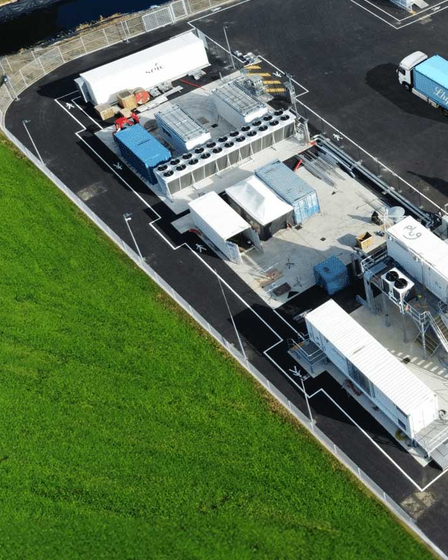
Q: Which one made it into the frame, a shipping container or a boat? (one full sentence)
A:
Looking from above, you can make out a shipping container.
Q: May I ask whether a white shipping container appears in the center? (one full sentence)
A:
Yes, you'll find a white shipping container in the center.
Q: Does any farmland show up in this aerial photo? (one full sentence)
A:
Yes, the picture does contain farmland.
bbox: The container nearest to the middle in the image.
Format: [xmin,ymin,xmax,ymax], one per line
[187,192,266,270]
